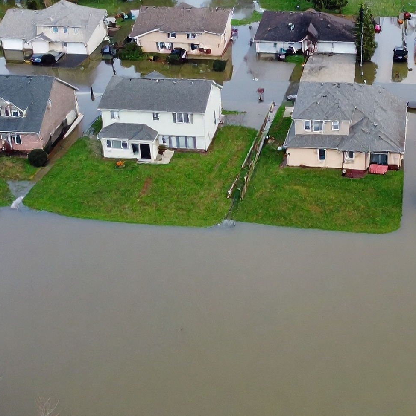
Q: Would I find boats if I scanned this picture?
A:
No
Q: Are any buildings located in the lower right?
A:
No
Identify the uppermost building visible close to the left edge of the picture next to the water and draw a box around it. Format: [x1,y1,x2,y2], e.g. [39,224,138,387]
[0,3,105,63]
